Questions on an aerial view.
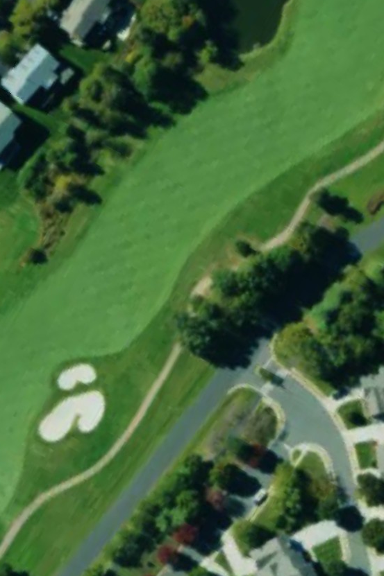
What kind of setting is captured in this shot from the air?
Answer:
golf course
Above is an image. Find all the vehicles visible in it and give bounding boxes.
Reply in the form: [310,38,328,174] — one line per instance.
[47,9,60,19]
[255,490,266,503]
[277,429,287,442]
